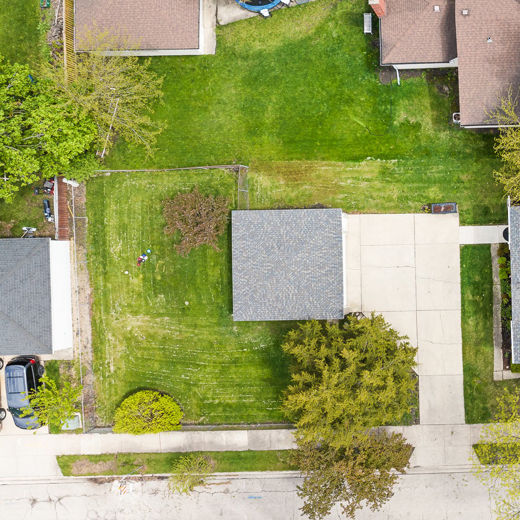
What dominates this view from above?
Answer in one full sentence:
The largest share of the image is taken up by grass.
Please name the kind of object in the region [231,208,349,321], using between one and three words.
building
